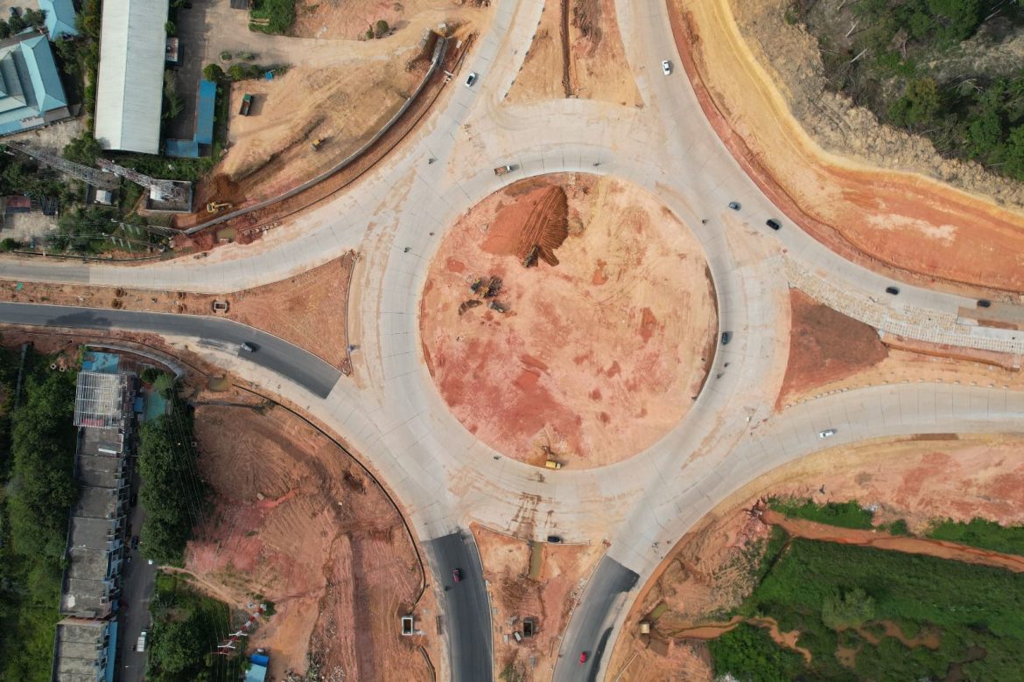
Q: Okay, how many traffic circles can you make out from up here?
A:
1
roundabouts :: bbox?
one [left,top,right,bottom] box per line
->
[348,99,789,541]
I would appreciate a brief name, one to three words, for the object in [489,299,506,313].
vehicle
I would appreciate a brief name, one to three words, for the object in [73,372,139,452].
building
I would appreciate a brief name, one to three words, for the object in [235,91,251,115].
vehicle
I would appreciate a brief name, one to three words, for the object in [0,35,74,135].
house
